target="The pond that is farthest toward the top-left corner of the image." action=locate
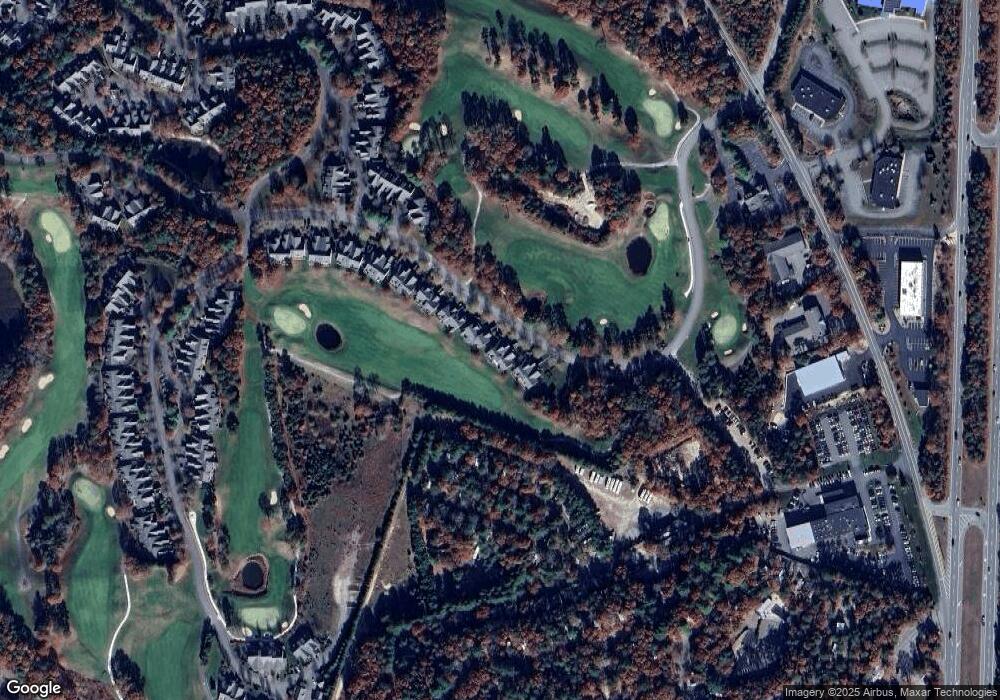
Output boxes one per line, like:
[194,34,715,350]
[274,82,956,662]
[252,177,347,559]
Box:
[152,146,223,190]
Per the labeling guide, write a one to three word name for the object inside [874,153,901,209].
building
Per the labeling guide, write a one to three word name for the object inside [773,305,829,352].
house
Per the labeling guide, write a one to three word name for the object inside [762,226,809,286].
house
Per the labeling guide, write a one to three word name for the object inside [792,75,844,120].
building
